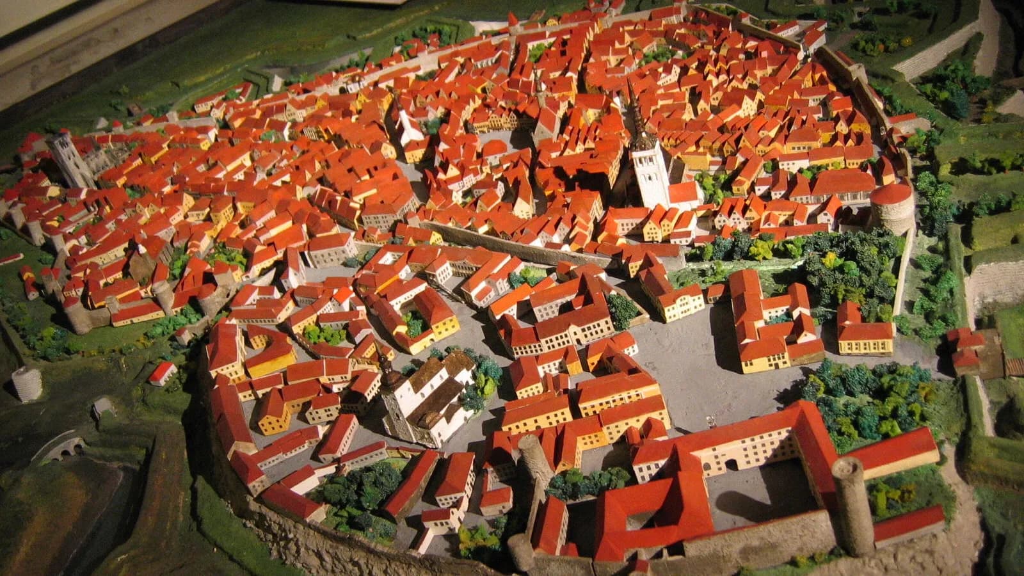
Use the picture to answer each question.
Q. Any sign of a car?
No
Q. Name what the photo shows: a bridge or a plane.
bridge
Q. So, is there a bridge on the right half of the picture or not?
No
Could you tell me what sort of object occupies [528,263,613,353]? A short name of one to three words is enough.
building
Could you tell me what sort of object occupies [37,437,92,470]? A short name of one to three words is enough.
bridge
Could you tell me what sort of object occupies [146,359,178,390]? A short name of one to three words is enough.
house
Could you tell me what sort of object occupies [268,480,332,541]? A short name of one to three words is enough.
building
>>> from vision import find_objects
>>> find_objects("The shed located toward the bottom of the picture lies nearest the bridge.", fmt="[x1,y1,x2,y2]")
[86,394,114,422]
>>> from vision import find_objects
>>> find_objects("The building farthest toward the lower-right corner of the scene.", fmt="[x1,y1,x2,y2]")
[872,503,946,547]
